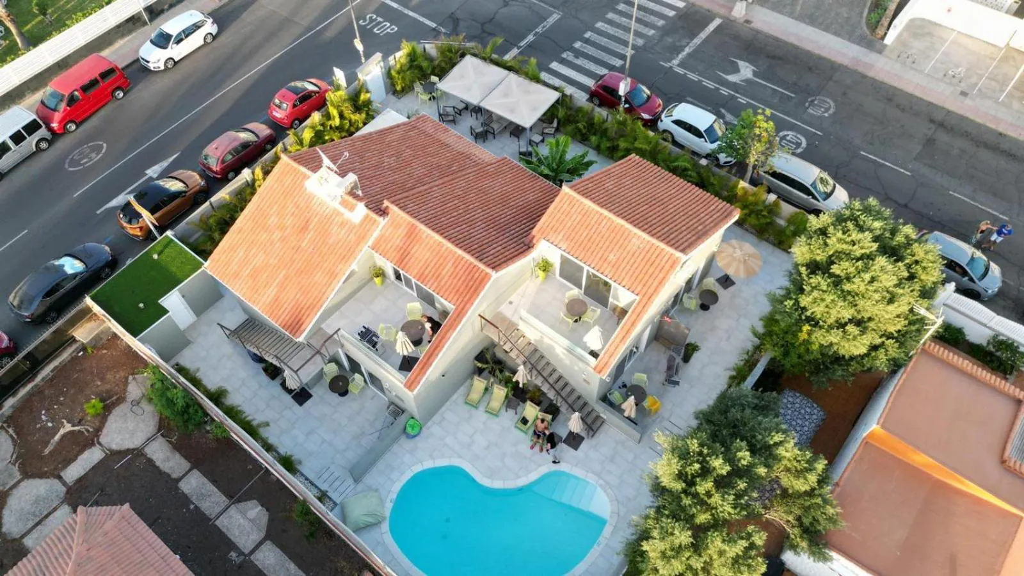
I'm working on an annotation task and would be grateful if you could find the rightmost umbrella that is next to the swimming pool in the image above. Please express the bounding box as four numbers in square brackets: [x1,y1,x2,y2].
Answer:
[561,419,587,454]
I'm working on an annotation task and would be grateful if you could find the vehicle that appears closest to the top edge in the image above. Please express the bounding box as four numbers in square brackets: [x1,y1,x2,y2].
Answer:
[134,10,218,74]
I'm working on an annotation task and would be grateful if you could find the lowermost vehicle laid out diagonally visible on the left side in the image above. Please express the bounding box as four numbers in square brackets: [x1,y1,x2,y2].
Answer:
[5,226,120,317]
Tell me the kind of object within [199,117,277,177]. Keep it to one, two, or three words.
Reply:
car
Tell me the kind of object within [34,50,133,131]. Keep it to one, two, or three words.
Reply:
van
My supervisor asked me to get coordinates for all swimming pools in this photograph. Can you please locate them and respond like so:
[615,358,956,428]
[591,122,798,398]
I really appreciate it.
[380,457,619,576]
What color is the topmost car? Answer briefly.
white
